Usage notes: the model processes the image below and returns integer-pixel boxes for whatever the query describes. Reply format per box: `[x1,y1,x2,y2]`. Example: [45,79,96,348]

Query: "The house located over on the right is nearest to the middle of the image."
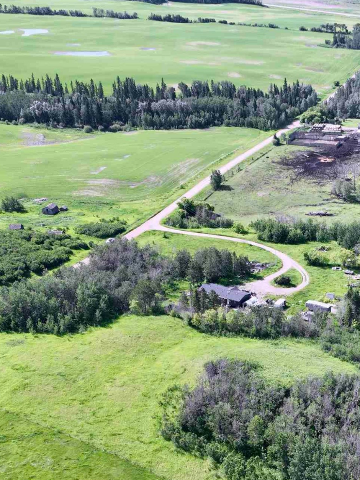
[192,280,252,308]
